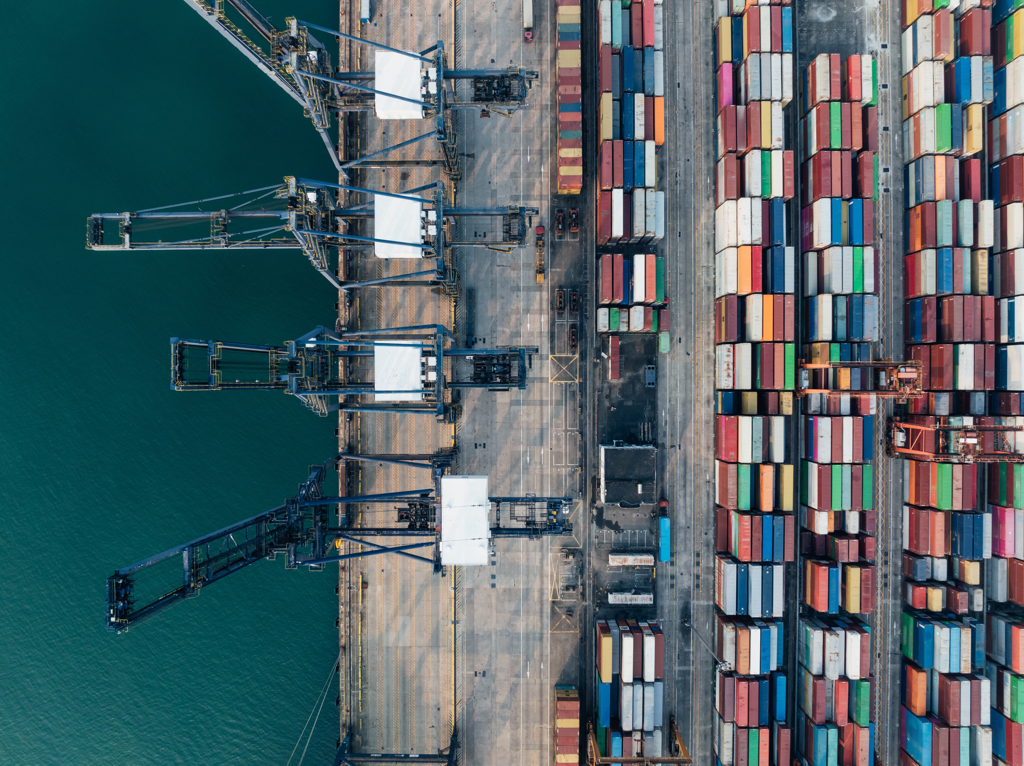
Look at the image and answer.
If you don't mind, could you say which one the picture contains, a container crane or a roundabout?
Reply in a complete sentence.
There is a container crane in the scene.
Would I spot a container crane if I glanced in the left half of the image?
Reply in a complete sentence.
Yes, a container crane can be seen in the left half of the image.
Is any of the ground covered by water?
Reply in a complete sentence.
Yes, there is water in the image.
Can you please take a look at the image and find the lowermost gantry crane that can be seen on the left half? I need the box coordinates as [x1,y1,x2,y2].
[332,722,468,766]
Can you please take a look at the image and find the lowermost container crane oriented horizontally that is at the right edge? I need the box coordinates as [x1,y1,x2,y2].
[889,415,1024,462]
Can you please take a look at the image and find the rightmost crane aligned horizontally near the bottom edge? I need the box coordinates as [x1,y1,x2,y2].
[585,714,693,766]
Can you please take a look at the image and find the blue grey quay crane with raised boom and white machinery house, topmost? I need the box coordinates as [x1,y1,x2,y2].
[186,0,551,190]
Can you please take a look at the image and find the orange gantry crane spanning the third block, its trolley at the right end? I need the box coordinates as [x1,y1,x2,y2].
[798,358,928,401]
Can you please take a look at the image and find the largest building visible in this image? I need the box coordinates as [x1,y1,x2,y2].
[599,438,656,510]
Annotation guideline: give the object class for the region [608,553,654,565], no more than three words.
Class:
shed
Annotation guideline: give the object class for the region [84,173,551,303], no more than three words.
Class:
container crane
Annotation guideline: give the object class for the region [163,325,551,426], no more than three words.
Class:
container crane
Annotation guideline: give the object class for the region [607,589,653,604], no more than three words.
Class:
shed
